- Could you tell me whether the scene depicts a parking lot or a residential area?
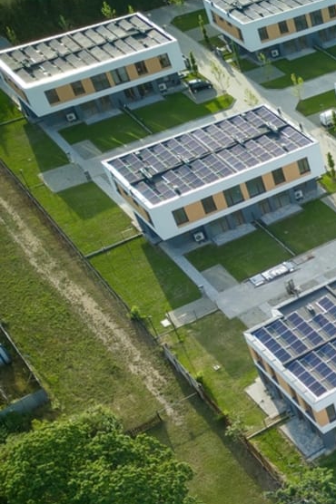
residential area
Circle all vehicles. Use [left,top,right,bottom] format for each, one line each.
[317,102,336,124]
[184,79,214,94]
